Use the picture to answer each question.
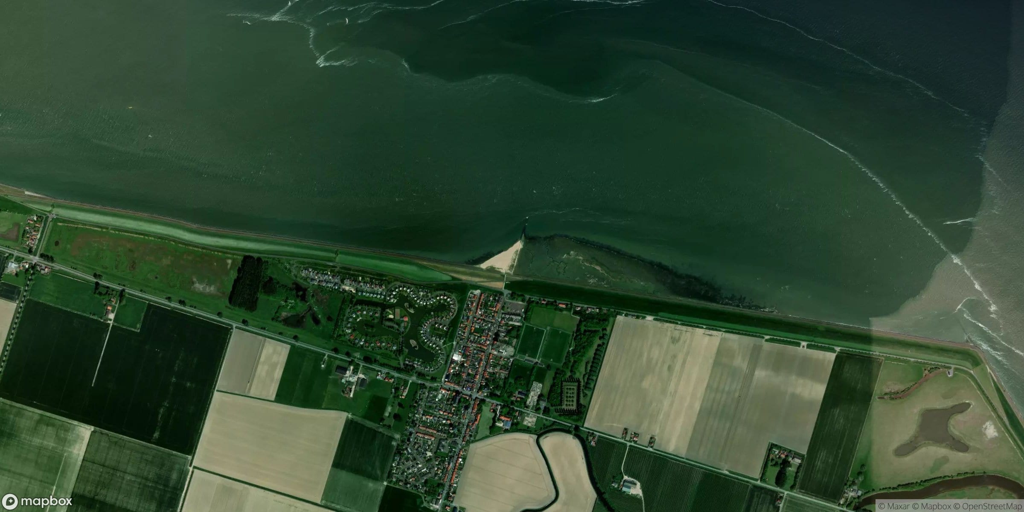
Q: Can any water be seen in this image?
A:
Yes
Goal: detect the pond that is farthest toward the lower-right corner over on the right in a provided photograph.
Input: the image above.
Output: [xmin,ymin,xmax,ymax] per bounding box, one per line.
[895,402,971,456]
